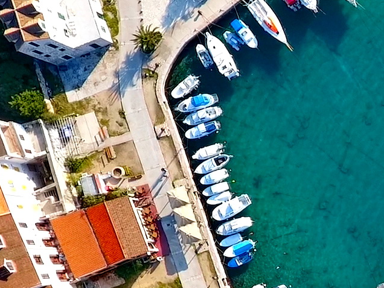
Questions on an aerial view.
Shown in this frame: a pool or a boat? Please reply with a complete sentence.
Visible in the photo is a boat.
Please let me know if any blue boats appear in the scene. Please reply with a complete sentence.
Yes, a blue boat appears in the view.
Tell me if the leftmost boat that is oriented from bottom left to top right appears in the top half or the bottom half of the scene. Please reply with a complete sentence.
The top half of the photo is where the leftmost boat that is oriented from bottom left to top right is.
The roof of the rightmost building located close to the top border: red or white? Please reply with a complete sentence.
The color of the roof of the rightmost building located close to the top border is white.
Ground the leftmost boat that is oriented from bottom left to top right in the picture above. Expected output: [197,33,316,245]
[170,75,200,98]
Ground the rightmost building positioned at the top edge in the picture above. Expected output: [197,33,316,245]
[59,0,112,54]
